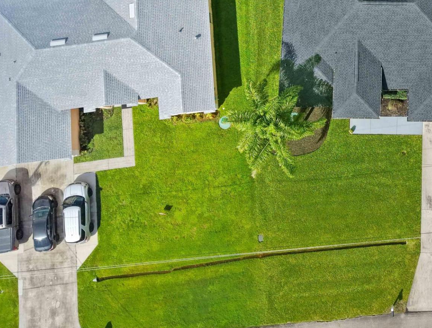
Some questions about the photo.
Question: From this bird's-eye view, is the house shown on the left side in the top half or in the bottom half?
top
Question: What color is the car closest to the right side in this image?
white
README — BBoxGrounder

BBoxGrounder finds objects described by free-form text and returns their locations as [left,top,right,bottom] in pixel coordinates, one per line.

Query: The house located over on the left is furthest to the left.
[0,0,220,171]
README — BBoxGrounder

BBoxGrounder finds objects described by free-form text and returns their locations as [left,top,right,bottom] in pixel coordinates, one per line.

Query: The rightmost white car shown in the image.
[59,183,93,244]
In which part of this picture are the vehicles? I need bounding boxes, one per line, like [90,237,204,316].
[0,180,20,254]
[29,195,61,253]
[59,183,93,244]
